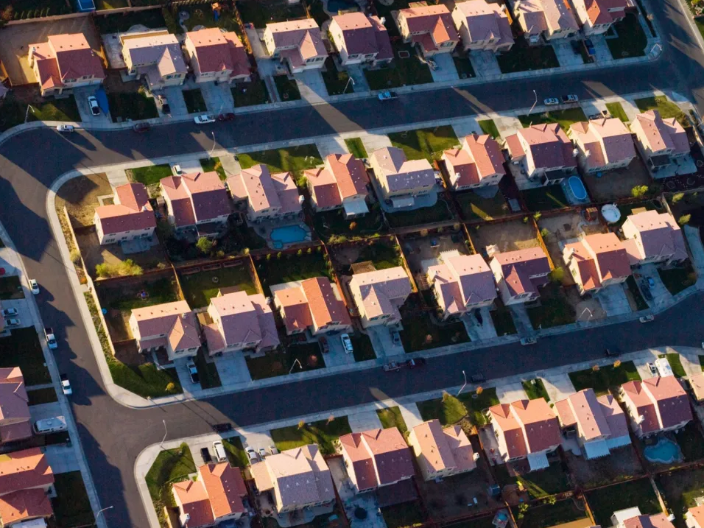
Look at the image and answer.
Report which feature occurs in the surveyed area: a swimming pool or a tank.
swimming pool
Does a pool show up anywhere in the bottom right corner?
Yes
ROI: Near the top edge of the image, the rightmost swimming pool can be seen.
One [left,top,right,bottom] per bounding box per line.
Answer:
[326,0,365,14]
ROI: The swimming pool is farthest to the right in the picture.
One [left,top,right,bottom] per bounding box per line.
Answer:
[642,437,682,462]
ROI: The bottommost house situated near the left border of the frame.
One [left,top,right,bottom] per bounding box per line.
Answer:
[0,453,55,528]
